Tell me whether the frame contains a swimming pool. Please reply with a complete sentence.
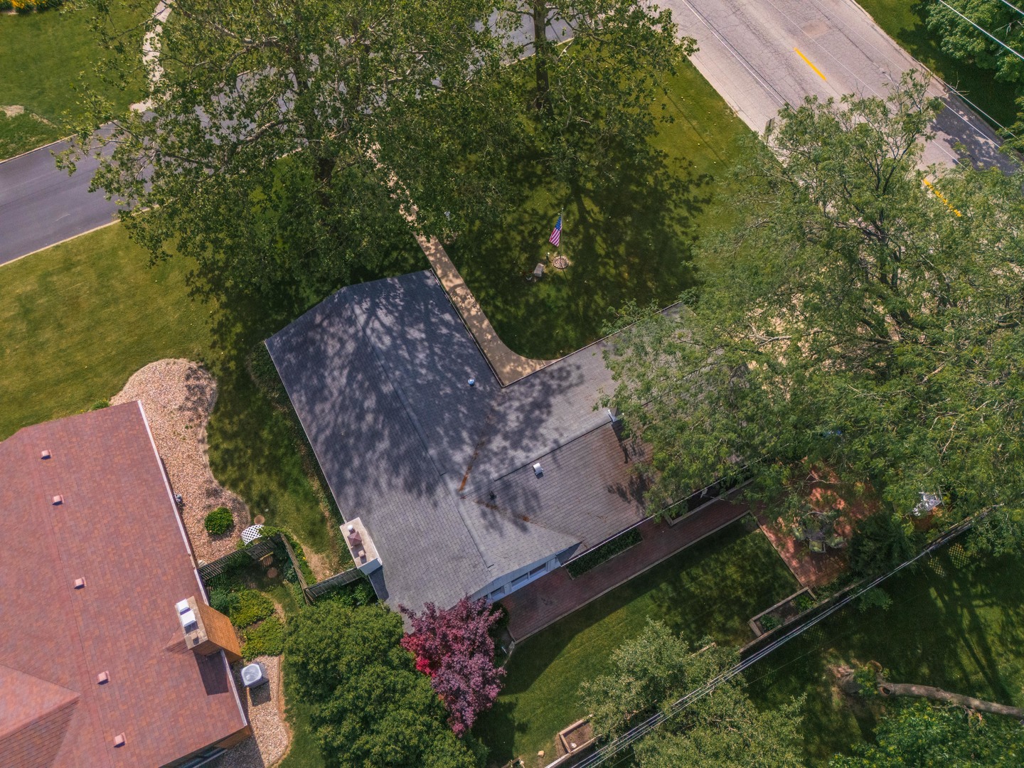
No, there's no swimming pool here.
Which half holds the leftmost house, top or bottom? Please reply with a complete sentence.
The leftmost house is in the bottom half of the image.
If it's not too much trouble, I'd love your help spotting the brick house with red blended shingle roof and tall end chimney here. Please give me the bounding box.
[0,399,255,768]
